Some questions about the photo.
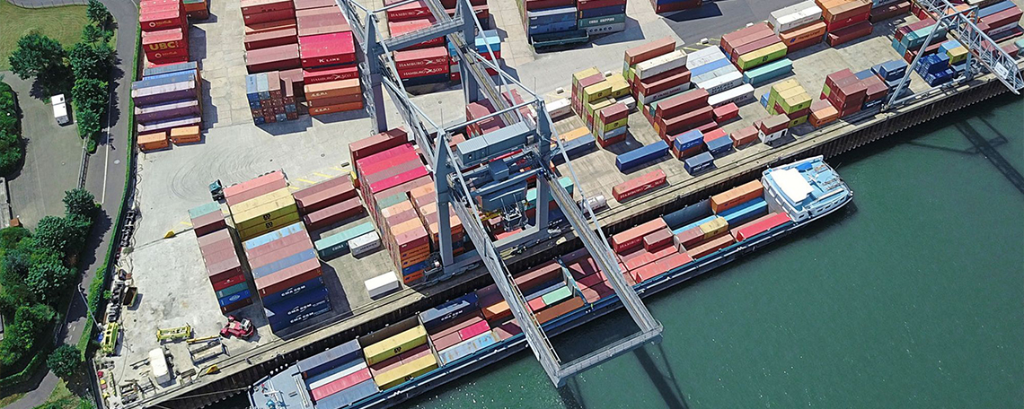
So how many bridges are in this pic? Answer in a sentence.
There are no bridges in this view.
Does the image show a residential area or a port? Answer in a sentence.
The picture captures a port.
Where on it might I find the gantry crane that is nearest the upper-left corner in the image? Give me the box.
[352,0,666,387]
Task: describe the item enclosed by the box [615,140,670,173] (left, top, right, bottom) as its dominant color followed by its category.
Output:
blue shipping container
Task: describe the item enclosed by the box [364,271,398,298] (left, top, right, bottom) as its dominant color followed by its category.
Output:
white shipping container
